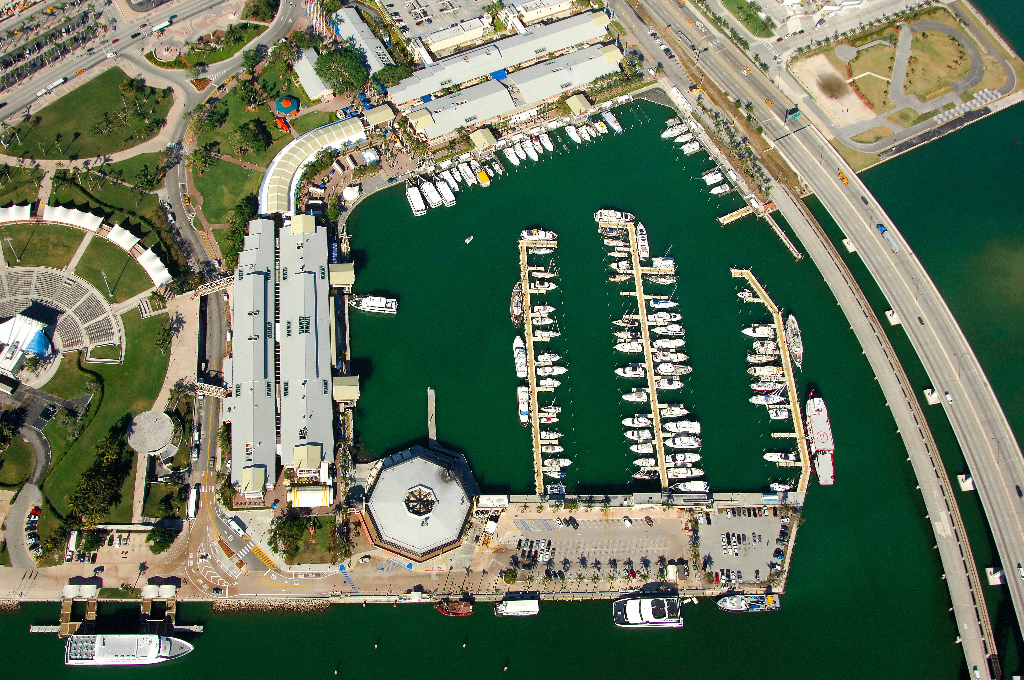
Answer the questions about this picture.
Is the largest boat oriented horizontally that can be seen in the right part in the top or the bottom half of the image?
bottom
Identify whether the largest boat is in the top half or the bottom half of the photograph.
bottom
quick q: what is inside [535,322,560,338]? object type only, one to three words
boat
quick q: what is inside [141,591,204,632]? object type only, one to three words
pier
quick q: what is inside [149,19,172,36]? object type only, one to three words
vehicle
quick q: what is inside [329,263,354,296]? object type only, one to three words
building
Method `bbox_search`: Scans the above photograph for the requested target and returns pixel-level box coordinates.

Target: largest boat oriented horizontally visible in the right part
[614,597,685,626]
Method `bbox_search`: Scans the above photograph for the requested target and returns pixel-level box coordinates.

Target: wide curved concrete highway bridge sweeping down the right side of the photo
[757,80,1024,680]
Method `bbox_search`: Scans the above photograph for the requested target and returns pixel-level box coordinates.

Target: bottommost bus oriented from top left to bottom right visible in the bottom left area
[225,516,248,539]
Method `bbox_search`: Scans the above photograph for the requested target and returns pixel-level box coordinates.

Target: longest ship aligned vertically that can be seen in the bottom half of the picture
[806,388,838,484]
